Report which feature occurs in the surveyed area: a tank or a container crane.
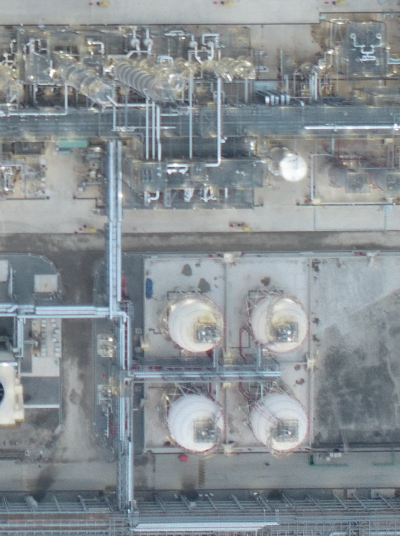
tank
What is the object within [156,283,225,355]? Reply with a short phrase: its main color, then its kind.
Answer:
white storage tank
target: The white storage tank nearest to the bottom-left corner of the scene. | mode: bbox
[153,380,226,458]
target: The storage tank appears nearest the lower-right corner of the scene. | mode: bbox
[239,380,313,454]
